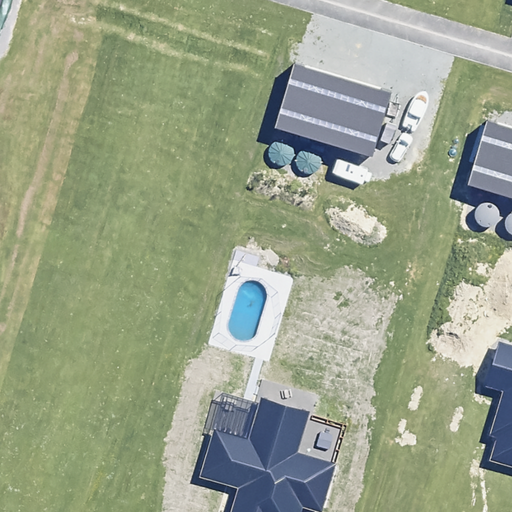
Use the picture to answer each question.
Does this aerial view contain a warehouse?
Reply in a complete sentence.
No, there isn't any warehouse down there.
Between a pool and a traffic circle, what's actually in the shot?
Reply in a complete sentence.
The one in the frame is a pool.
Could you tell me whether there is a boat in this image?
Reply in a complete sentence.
Yes, the image includes a boat.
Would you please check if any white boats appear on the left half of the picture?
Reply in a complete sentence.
No, there's no white boat to be seen on the left half of the picture.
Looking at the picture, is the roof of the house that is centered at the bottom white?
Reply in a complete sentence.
No, from above the roof of the house that is centered at the bottom looks blue.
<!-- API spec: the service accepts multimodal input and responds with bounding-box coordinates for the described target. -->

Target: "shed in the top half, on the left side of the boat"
[276,63,390,154]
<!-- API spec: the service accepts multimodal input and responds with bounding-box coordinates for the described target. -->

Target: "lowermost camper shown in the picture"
[332,160,374,184]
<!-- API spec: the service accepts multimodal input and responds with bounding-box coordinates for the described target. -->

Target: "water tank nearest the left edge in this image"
[268,142,294,167]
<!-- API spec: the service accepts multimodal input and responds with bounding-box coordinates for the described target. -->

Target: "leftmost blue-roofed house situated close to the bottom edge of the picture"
[200,398,336,512]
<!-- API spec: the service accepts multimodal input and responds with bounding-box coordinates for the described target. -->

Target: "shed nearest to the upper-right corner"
[468,120,512,198]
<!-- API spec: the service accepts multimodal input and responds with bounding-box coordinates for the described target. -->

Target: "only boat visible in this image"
[402,90,428,132]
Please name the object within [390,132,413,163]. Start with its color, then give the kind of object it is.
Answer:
white car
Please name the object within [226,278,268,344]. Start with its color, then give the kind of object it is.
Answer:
blue swimming pool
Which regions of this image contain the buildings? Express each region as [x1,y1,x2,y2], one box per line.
[200,398,336,512]
[276,63,390,154]
[468,120,512,198]
[484,341,512,468]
